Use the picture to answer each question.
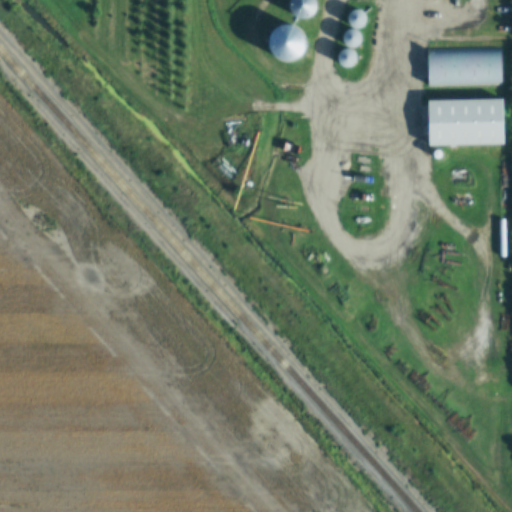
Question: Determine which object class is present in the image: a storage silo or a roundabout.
storage silo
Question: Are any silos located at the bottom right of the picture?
No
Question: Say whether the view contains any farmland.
Yes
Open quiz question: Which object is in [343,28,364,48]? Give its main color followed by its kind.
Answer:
white silo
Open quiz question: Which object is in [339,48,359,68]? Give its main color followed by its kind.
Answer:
white silo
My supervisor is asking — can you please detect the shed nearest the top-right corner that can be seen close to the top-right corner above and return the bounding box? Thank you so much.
[428,48,504,86]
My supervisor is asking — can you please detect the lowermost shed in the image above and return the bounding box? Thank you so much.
[428,98,506,146]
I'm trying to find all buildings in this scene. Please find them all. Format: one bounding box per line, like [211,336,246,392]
[428,48,504,86]
[428,98,506,146]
